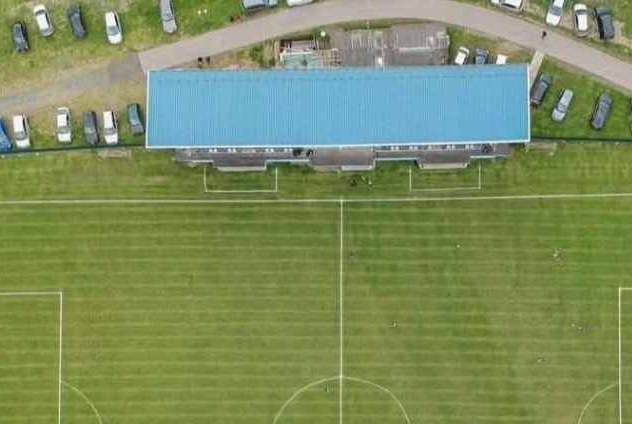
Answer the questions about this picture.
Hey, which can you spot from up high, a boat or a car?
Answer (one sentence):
The one in the frame is a car.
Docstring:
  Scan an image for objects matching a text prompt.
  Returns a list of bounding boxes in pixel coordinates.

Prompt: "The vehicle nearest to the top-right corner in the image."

[594,5,615,41]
